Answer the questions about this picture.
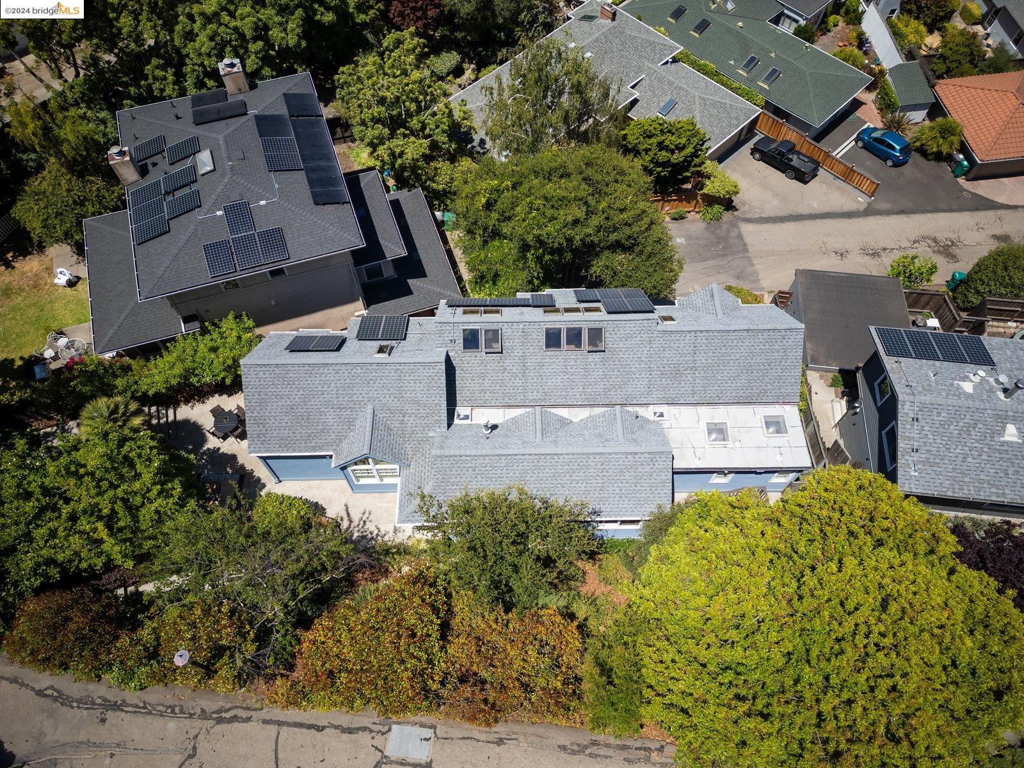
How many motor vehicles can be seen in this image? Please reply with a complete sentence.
I count 2 motor vehicles.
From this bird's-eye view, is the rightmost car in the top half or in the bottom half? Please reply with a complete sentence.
The top half of the photo is where the rightmost car is.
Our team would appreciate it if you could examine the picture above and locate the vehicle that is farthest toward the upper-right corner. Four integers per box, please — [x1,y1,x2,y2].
[853,124,915,168]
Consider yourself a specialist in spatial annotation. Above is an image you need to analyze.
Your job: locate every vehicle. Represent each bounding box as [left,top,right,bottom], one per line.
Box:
[853,124,915,168]
[746,134,817,181]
